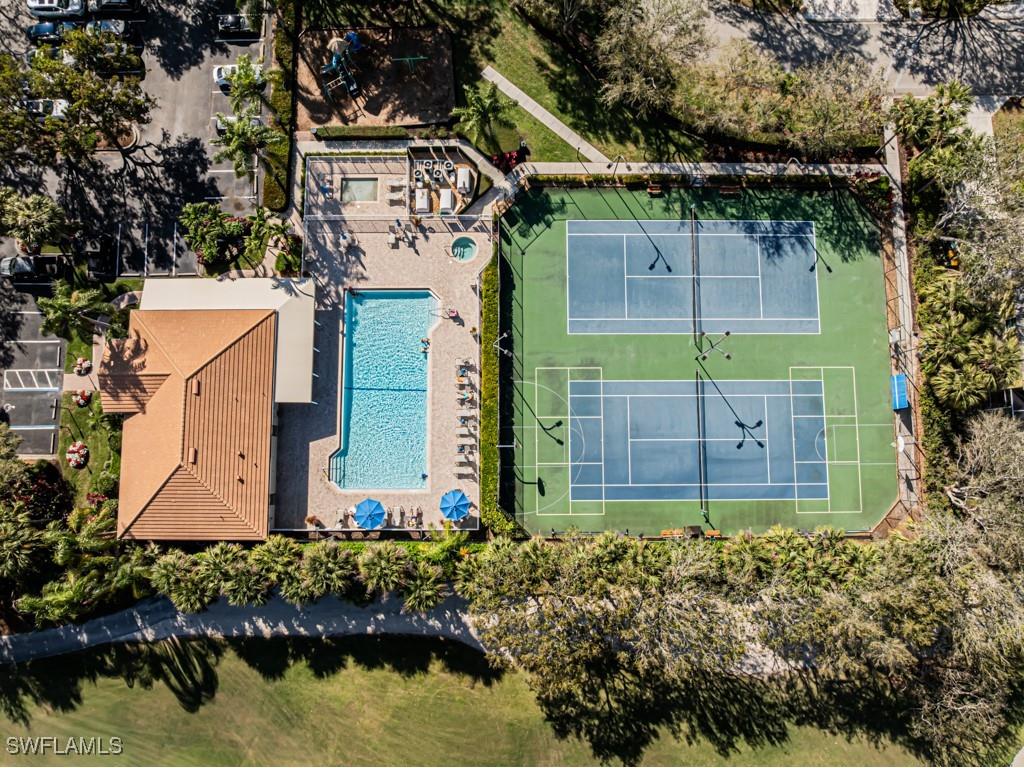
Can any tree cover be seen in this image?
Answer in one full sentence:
Yes, tree cover shows up in the scene.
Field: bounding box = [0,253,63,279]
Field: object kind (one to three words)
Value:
vehicle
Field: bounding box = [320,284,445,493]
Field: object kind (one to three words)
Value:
swimming pool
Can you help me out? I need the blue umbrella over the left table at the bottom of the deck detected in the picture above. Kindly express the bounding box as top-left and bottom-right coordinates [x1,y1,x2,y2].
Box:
[353,498,386,530]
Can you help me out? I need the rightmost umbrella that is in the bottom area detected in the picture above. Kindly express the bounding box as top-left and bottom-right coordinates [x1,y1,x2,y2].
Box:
[440,490,470,520]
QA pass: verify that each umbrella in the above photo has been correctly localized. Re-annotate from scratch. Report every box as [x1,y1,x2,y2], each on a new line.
[440,490,470,520]
[353,498,386,530]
